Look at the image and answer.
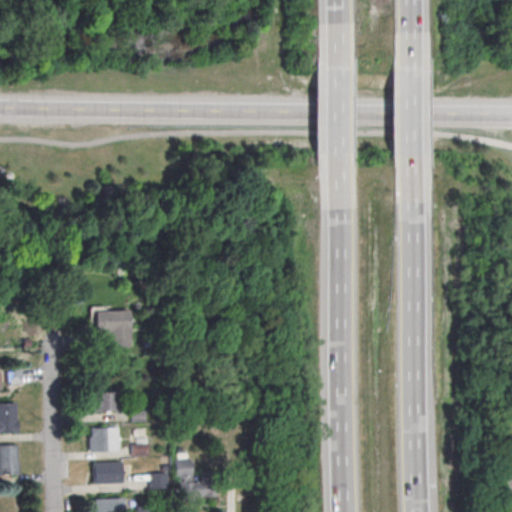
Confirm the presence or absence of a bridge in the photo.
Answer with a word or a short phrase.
Yes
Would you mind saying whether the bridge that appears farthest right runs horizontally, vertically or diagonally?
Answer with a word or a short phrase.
vertically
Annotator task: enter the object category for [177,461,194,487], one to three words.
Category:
house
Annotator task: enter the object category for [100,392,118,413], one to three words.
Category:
house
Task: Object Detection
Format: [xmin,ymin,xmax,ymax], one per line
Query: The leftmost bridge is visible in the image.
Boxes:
[318,23,358,208]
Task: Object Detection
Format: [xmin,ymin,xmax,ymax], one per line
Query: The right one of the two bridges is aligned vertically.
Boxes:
[394,23,433,208]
